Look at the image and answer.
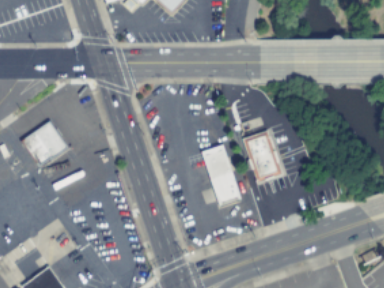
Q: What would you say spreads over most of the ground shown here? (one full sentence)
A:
The bulk of the photo consists of paved ground.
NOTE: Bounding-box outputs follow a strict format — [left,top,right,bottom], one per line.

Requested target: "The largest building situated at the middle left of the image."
[22,122,71,167]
